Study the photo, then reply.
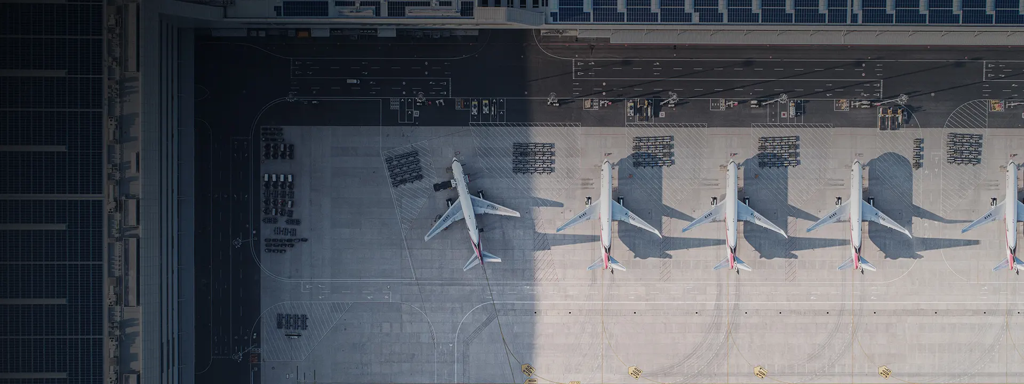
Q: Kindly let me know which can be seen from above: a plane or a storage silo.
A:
plane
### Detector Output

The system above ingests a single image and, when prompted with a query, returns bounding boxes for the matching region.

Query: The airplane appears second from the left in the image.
[554,159,663,272]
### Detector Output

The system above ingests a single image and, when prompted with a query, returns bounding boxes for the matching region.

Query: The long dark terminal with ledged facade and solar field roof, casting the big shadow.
[0,0,195,384]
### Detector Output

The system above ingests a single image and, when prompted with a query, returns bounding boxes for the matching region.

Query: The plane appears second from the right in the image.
[807,160,917,274]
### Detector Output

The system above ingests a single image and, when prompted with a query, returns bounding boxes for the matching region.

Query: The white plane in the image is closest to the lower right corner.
[964,161,1024,272]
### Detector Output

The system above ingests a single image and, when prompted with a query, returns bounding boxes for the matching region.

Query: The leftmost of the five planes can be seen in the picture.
[423,158,521,271]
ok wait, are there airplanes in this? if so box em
[423,158,521,271]
[682,160,791,273]
[554,159,663,272]
[807,160,917,274]
[964,161,1024,272]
